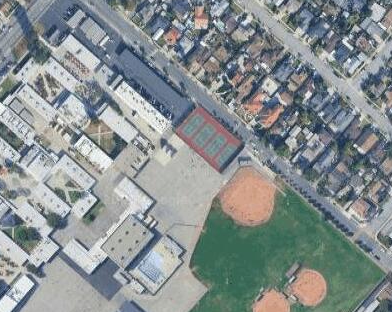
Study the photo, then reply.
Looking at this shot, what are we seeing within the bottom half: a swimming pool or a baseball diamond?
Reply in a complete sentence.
It is a baseball diamond that can be seen within the bottom half.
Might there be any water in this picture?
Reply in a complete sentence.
No, the scene doesn't show any water.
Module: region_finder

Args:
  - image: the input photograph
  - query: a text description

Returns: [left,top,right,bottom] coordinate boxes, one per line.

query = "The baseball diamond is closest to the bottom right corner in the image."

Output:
[286,268,327,306]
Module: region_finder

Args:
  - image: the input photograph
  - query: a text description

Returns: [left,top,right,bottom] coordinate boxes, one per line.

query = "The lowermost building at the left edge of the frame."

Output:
[0,276,35,312]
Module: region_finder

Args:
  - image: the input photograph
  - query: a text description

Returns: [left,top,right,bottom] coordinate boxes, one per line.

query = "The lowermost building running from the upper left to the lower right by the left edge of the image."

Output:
[0,234,28,267]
